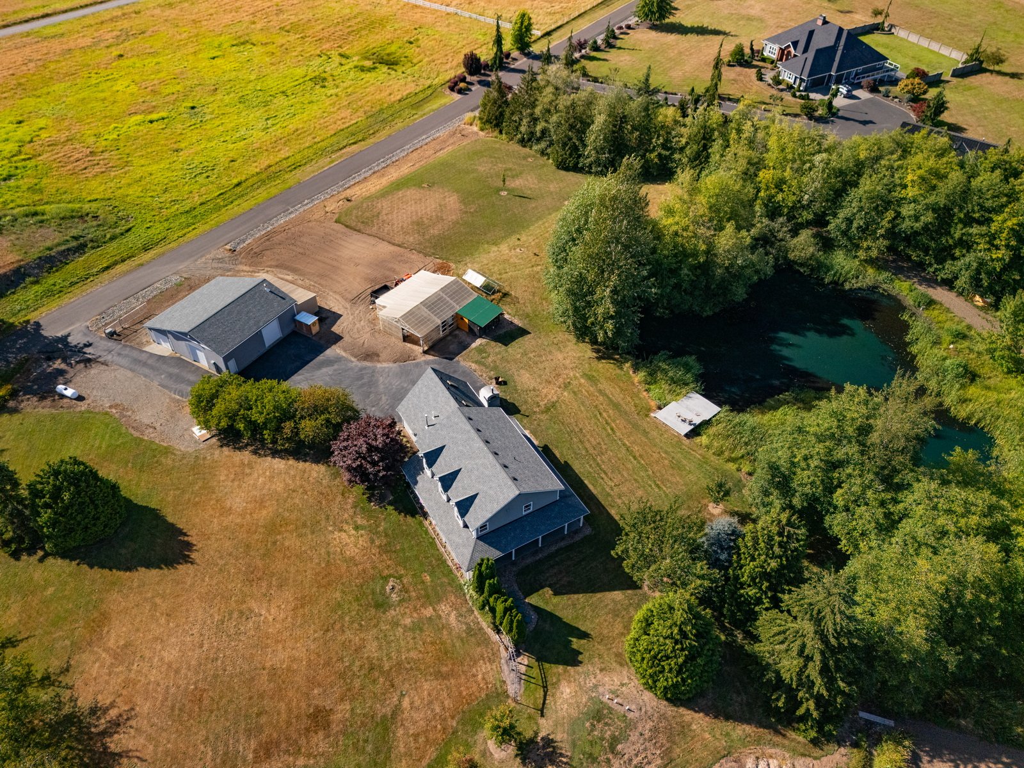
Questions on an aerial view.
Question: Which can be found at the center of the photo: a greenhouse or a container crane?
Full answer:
The one visible at the center of the photo is a greenhouse.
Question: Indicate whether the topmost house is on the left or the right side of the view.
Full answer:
It is on the right.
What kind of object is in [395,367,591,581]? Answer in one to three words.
house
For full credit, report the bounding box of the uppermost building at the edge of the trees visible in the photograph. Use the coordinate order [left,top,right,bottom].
[757,11,907,92]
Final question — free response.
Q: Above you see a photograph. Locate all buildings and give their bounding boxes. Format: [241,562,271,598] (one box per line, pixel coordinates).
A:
[395,367,591,581]
[888,123,1000,171]
[372,272,479,353]
[757,11,907,92]
[143,277,299,380]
